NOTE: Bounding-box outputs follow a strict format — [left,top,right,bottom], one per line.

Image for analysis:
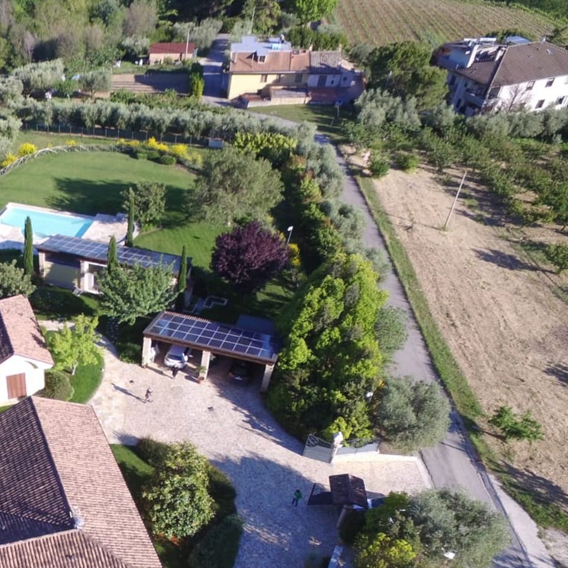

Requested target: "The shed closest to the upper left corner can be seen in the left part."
[148,39,198,69]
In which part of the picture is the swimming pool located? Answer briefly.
left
